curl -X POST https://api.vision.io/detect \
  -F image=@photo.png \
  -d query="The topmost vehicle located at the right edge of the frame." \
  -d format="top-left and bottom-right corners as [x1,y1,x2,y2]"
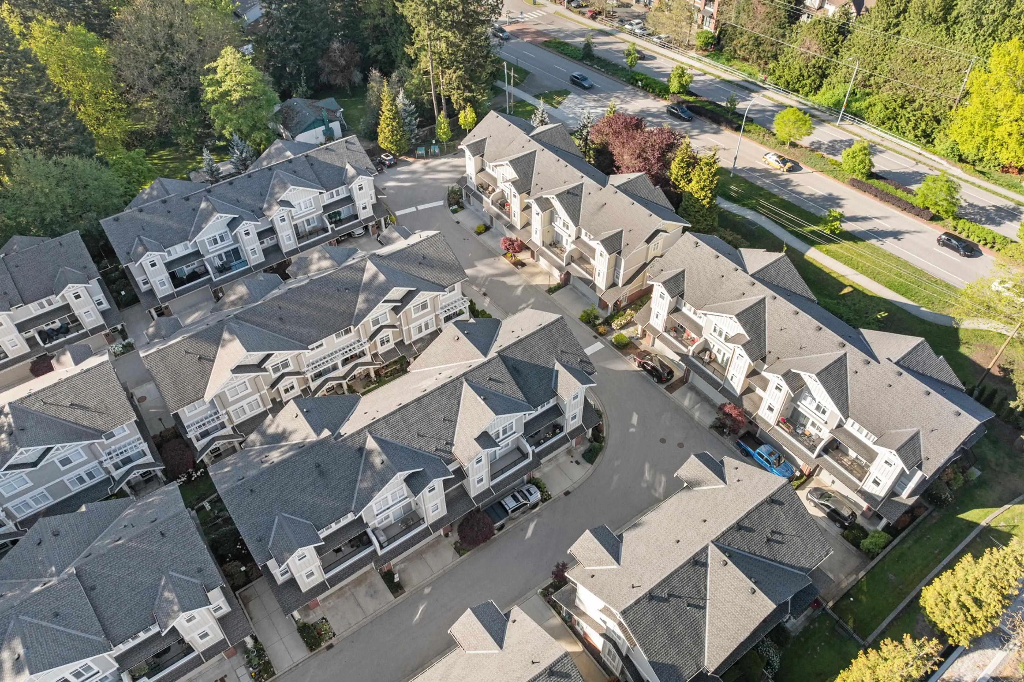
[939,231,981,257]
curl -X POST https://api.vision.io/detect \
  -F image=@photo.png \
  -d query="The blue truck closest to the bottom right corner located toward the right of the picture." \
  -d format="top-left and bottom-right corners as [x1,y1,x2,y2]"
[735,433,794,480]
